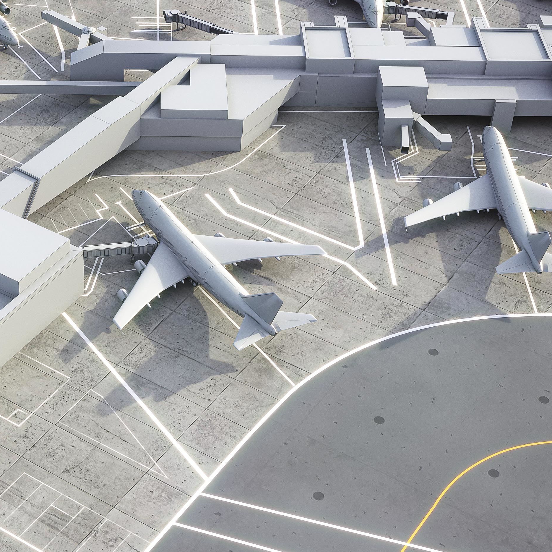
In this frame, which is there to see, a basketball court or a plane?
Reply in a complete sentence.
Looking from above, you can make out a plane.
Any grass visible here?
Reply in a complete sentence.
No, the scene doesn't show any grass.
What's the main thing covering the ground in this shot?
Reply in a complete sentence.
The largest share of the image is taken up by paved ground.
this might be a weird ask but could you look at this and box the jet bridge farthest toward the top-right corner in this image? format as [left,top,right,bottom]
[382,0,457,27]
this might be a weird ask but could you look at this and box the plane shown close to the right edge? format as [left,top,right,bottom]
[405,124,552,274]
